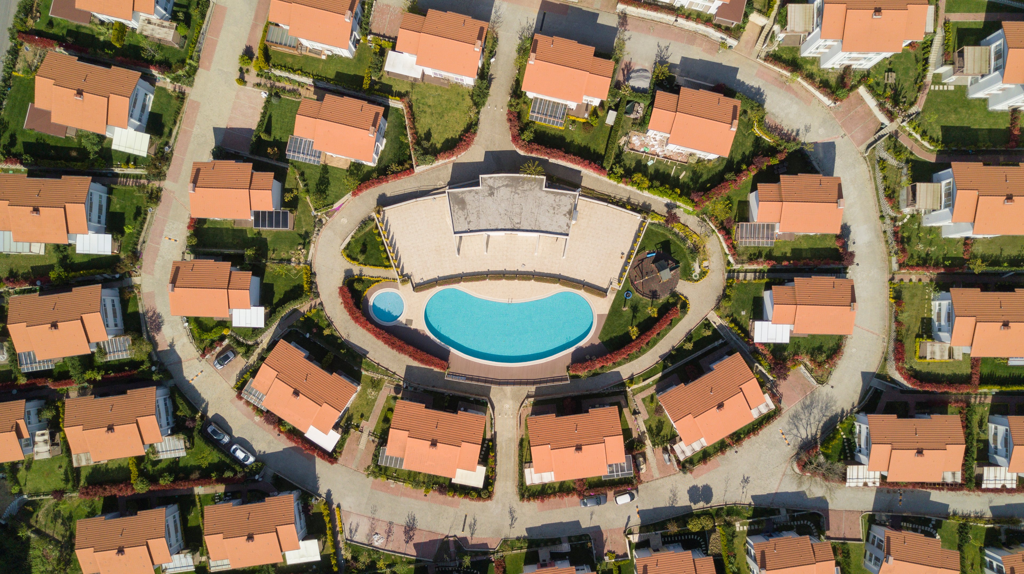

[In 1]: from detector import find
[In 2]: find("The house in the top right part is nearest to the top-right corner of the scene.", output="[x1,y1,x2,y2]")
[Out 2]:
[971,18,1024,106]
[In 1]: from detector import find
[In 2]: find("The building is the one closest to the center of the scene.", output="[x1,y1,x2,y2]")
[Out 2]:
[446,174,579,259]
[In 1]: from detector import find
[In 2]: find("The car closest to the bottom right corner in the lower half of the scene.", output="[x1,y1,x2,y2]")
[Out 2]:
[614,489,639,506]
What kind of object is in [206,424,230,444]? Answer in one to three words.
car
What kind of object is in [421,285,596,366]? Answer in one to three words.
swimming pool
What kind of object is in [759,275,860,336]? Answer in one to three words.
house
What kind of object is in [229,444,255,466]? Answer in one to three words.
car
